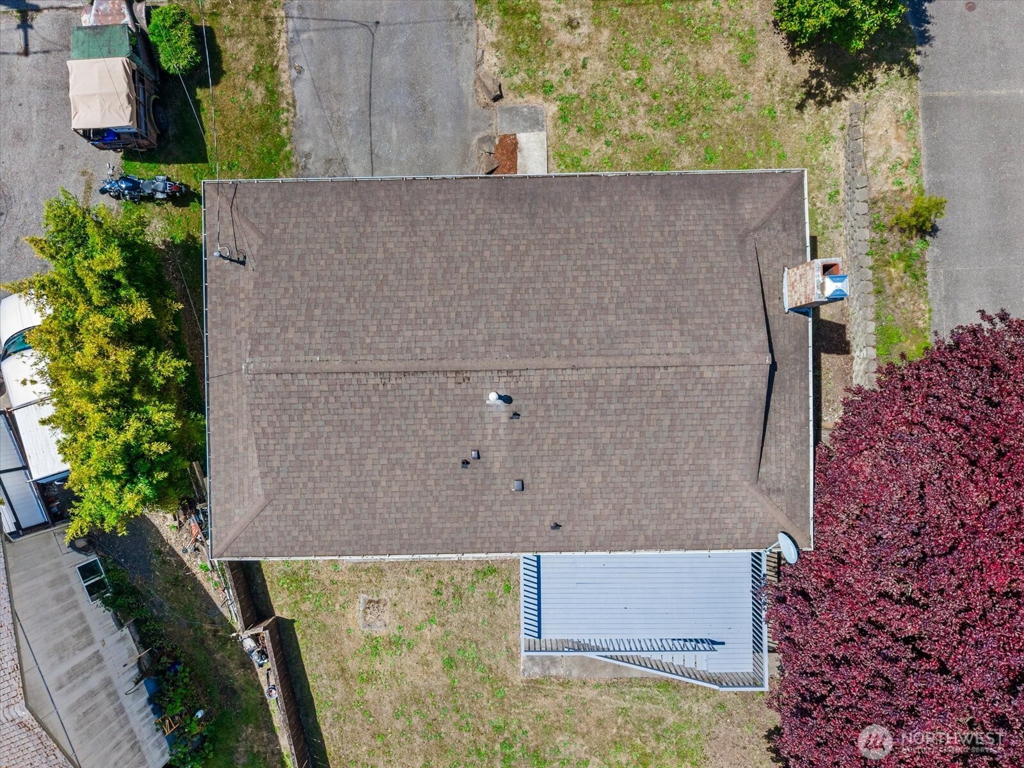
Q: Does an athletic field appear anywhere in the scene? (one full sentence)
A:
No, the photo shows no athletic field.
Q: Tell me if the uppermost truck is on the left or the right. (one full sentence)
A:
It is on the left.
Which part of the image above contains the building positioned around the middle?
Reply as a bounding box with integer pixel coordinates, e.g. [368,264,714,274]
[202,168,847,562]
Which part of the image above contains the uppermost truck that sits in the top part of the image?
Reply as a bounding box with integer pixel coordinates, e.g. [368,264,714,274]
[66,0,174,157]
